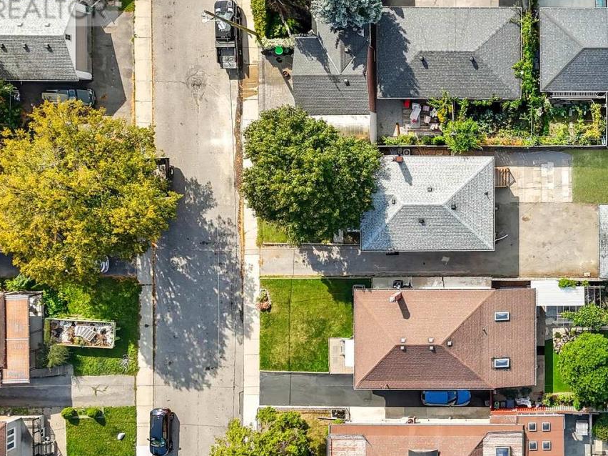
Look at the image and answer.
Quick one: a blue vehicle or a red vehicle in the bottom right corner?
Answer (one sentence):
The feature located in the bottom right corner is a blue vehicle.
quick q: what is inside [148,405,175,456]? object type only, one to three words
car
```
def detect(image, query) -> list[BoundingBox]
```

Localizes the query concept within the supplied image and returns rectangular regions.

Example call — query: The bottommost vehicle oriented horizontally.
[422,390,472,412]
